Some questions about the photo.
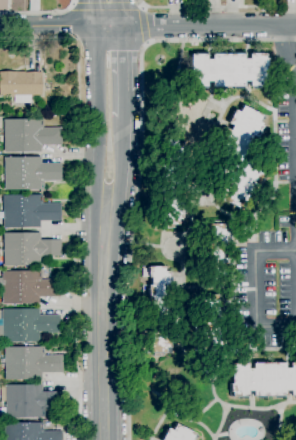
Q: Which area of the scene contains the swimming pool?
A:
bottom right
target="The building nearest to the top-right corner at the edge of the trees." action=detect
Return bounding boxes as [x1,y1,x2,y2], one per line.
[194,52,271,86]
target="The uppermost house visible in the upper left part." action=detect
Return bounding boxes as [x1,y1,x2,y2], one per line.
[0,70,43,96]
